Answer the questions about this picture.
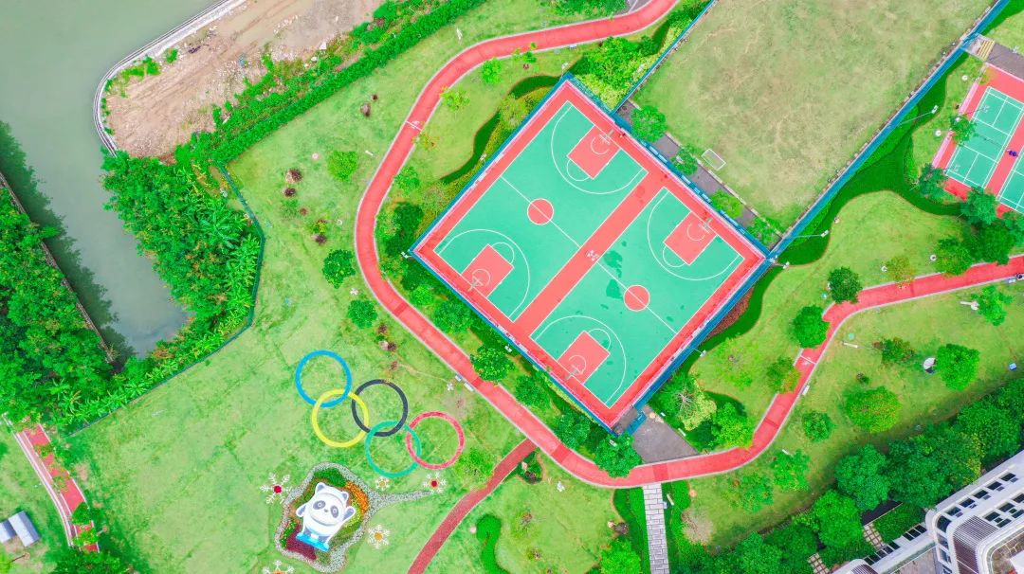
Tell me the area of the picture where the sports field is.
top right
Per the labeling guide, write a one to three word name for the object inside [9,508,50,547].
shed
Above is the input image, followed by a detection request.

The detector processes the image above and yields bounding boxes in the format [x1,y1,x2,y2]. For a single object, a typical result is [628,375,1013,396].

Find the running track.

[353,0,1024,488]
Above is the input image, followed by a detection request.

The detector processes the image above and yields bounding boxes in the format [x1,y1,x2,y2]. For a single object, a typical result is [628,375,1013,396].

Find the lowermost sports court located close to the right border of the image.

[999,147,1024,210]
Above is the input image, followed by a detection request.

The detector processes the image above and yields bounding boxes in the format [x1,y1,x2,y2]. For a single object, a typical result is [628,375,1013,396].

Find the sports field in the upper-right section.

[628,0,990,237]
